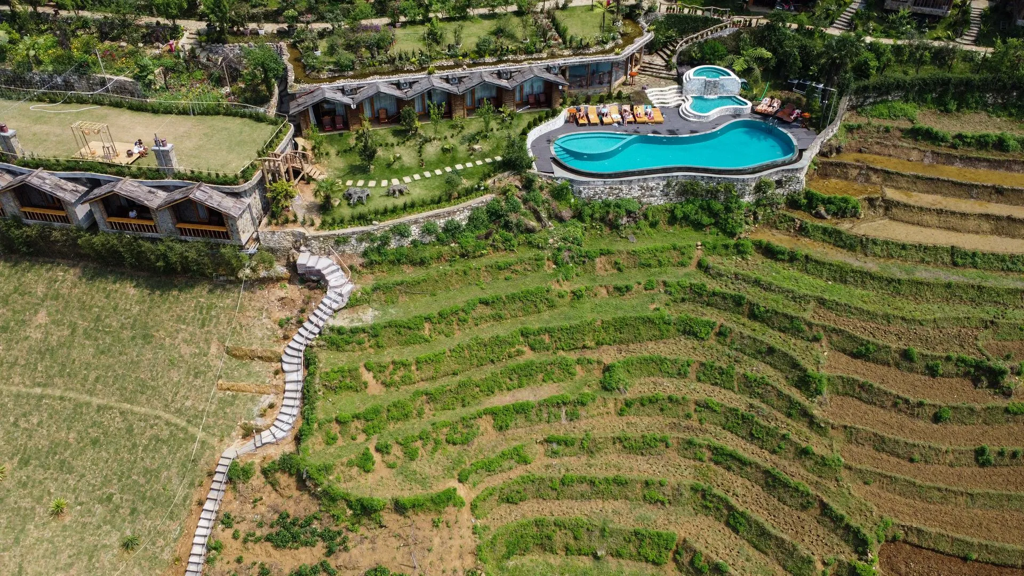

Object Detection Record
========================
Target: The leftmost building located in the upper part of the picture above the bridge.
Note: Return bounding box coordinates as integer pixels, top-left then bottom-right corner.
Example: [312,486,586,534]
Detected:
[296,84,358,144]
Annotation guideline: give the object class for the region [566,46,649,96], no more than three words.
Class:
building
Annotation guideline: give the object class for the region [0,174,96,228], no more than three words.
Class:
house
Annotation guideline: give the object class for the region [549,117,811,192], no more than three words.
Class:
swimming pool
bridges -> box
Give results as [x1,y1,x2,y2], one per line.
[254,145,337,193]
